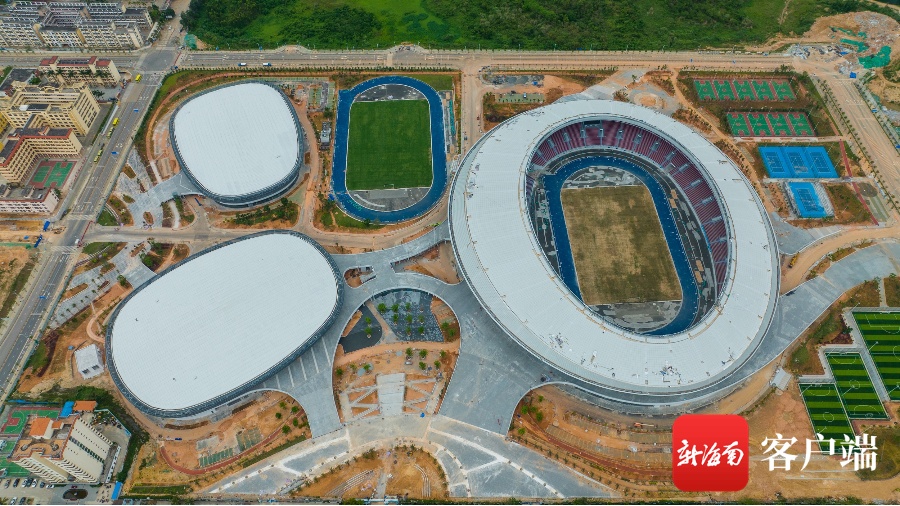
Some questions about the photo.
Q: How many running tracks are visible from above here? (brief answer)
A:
2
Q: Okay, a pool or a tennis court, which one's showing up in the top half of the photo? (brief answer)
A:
tennis court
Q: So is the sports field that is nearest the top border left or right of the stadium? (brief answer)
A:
on the left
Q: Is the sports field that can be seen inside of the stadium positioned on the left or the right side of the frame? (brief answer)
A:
right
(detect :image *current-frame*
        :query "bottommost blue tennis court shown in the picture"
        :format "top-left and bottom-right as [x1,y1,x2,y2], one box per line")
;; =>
[788,182,827,217]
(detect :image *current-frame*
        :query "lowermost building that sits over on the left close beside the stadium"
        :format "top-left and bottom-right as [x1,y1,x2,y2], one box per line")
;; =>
[105,230,343,418]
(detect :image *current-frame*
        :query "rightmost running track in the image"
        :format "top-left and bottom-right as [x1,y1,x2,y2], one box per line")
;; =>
[542,155,703,337]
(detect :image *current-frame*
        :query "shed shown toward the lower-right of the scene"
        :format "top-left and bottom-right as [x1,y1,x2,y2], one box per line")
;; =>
[768,367,793,394]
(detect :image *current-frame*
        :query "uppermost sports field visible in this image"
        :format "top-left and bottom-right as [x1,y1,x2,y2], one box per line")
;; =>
[346,99,432,189]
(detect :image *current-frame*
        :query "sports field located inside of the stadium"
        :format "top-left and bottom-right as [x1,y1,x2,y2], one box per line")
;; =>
[562,186,682,302]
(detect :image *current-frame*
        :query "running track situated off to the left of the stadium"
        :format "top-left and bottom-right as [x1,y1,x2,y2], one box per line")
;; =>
[330,76,446,222]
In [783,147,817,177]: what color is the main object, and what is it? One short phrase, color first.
blue tennis court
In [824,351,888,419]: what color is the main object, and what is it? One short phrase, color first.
green soccer field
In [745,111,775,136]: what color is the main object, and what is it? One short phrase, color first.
green basketball court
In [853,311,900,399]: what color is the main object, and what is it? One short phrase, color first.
green soccer field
